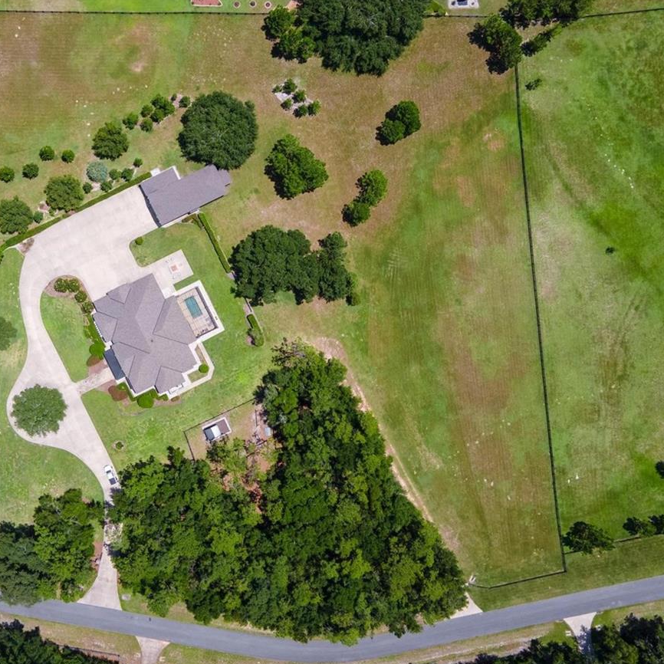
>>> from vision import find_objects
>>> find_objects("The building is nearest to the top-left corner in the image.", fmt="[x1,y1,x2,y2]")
[139,165,233,227]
